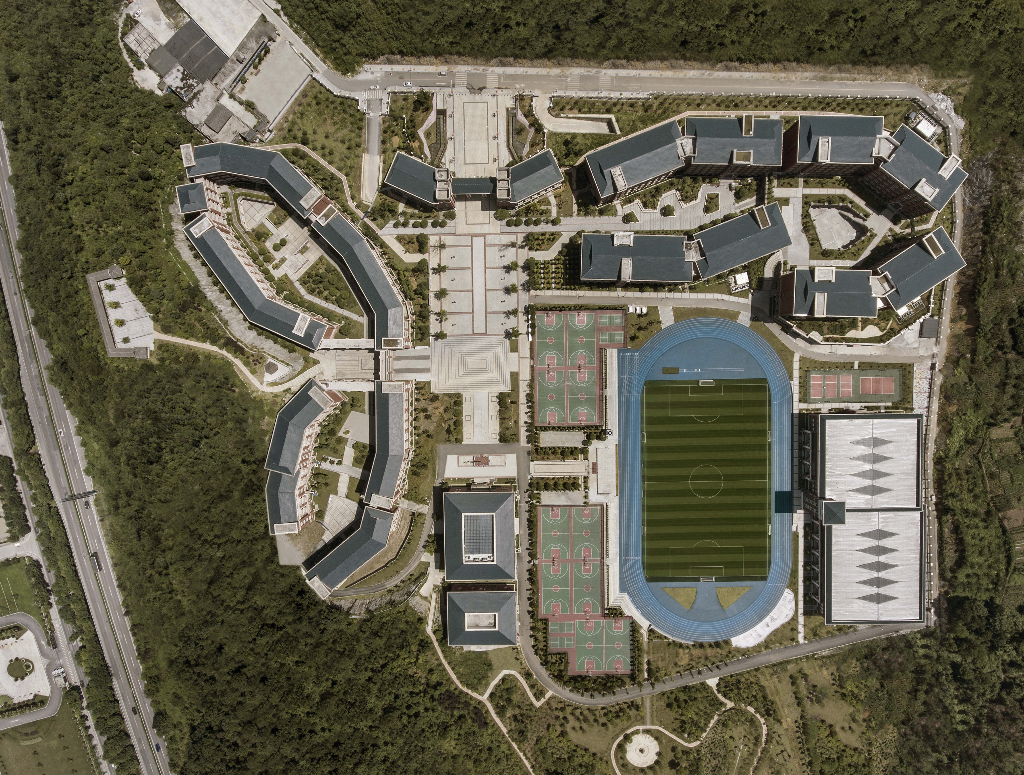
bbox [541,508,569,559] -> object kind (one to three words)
basketball court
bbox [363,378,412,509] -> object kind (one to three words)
building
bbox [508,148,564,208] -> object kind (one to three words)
building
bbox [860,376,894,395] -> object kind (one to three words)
sports court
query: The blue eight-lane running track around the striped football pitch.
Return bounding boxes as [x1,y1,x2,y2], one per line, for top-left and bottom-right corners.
[617,316,792,642]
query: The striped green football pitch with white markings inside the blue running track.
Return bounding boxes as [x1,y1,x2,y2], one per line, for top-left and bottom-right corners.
[642,380,770,582]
